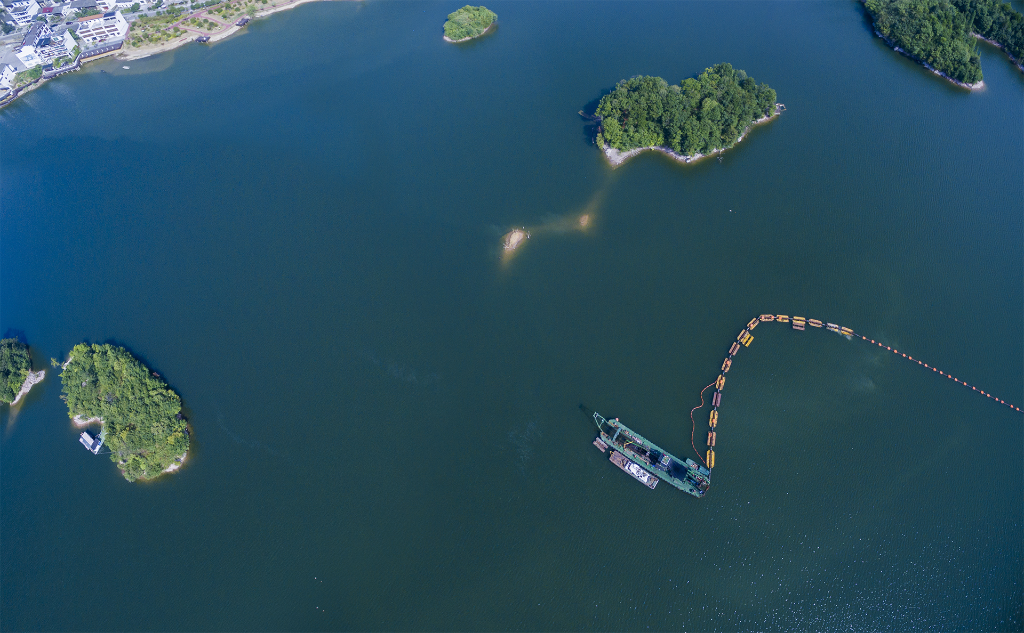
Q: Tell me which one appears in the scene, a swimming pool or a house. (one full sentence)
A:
This aerial view contains a house.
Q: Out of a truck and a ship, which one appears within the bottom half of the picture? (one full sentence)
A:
The one visible within the bottom half of the picture is a ship.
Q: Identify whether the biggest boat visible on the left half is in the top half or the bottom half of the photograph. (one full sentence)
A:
You can find the biggest boat visible on the left half in the bottom half.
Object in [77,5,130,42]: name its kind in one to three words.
building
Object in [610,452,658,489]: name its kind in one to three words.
ship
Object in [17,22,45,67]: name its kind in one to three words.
house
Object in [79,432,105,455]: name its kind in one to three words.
boat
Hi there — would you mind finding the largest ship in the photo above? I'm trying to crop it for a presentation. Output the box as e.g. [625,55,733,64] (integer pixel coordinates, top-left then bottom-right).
[593,411,709,501]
